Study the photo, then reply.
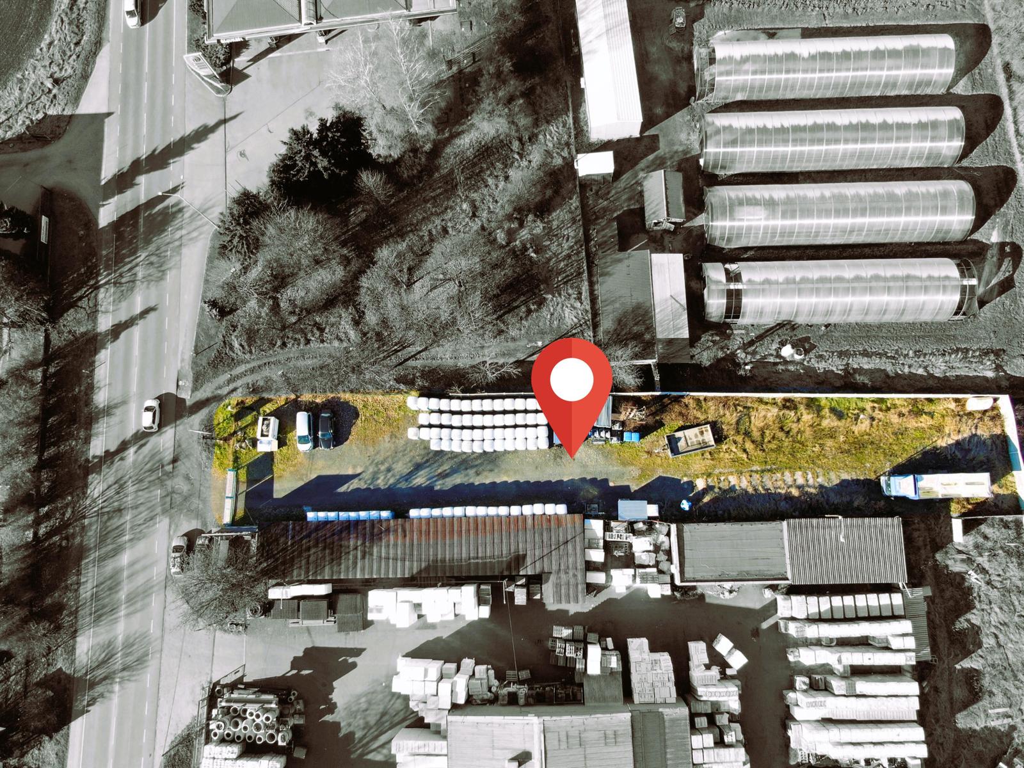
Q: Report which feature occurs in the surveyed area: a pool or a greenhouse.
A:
greenhouse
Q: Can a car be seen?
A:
Yes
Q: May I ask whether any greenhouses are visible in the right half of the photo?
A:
Yes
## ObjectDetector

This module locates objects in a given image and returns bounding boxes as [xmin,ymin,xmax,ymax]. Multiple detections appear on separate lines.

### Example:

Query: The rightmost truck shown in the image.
[872,472,991,498]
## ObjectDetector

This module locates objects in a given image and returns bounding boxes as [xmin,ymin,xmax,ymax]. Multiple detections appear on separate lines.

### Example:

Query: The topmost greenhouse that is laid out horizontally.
[695,36,963,101]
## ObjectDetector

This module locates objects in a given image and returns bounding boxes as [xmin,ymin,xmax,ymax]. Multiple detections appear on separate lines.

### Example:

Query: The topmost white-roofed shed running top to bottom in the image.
[573,0,643,137]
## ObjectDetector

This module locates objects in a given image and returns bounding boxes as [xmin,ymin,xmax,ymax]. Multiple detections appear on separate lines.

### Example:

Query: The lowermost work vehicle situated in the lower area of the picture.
[710,658,728,674]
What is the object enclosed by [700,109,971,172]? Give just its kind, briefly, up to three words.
greenhouse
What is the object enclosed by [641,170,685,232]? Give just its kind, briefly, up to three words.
shed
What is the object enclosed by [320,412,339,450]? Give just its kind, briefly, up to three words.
car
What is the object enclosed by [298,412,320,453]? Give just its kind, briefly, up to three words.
vehicle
